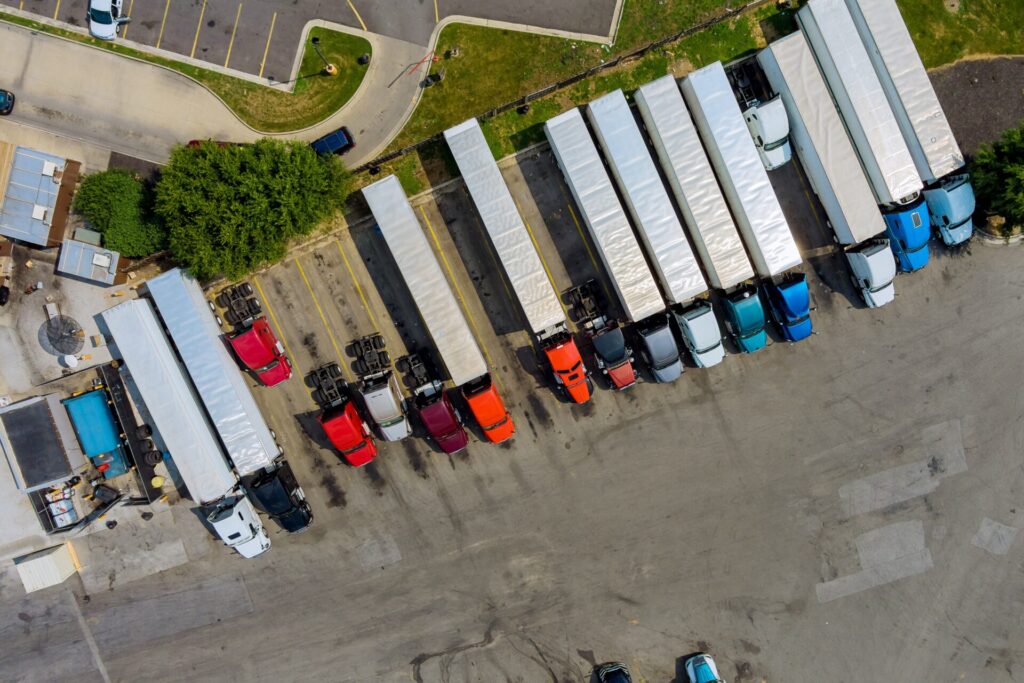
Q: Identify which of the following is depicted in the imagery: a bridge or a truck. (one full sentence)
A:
The one in the frame is a truck.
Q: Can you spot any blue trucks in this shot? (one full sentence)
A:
Yes, a blue truck appears in the view.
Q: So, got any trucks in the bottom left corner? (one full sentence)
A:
Yes, you'll find a truck in the bottom left corner.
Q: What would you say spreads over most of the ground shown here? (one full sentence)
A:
For the most part, this view shows paved ground.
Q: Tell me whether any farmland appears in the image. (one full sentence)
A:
No, the scene doesn't show any farmland.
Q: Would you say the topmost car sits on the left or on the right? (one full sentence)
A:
The topmost car appears in the left half of the scene.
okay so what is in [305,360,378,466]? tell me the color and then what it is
red truck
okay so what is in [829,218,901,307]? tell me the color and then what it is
white truck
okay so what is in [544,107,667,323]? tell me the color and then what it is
white trailer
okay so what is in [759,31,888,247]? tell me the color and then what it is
white trailer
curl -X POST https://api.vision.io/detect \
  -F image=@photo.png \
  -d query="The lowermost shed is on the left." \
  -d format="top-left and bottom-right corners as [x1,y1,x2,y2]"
[16,541,81,593]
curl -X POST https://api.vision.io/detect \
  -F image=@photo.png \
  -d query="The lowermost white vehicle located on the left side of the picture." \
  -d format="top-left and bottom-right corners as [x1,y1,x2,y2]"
[211,477,273,557]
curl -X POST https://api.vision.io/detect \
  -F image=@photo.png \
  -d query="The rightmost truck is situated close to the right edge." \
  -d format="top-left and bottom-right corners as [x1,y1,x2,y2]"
[923,174,979,247]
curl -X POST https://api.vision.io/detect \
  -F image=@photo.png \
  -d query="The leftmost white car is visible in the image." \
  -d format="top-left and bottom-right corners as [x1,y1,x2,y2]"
[92,0,134,43]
